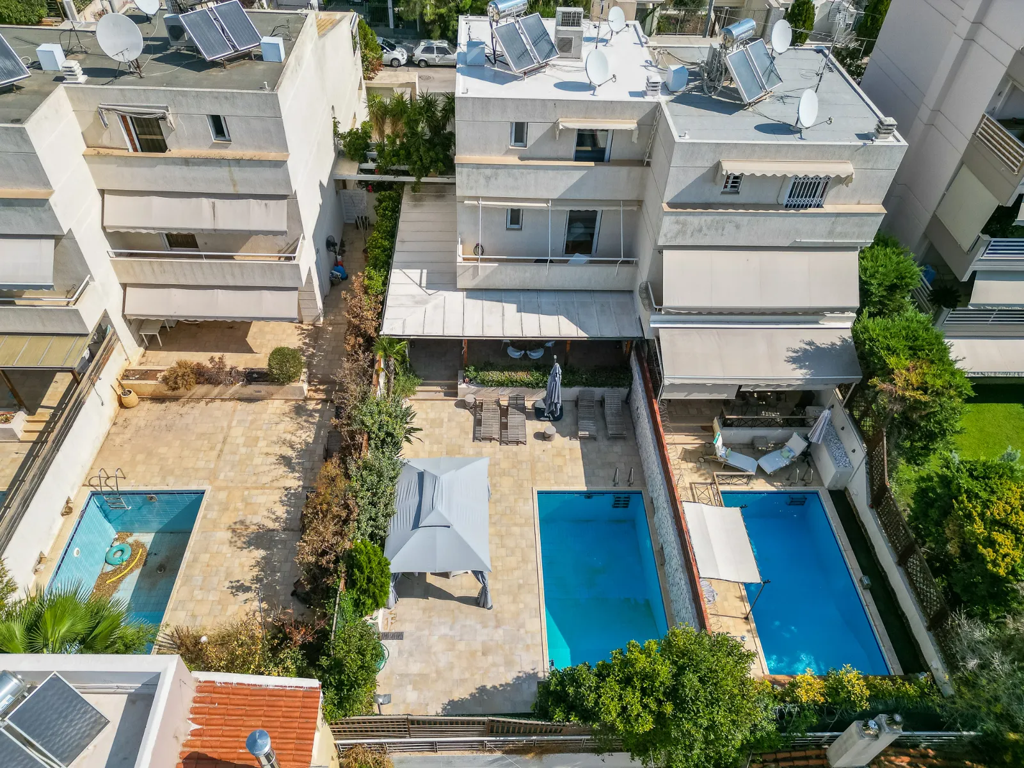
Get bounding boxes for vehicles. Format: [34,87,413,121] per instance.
[374,34,406,66]
[412,37,458,67]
